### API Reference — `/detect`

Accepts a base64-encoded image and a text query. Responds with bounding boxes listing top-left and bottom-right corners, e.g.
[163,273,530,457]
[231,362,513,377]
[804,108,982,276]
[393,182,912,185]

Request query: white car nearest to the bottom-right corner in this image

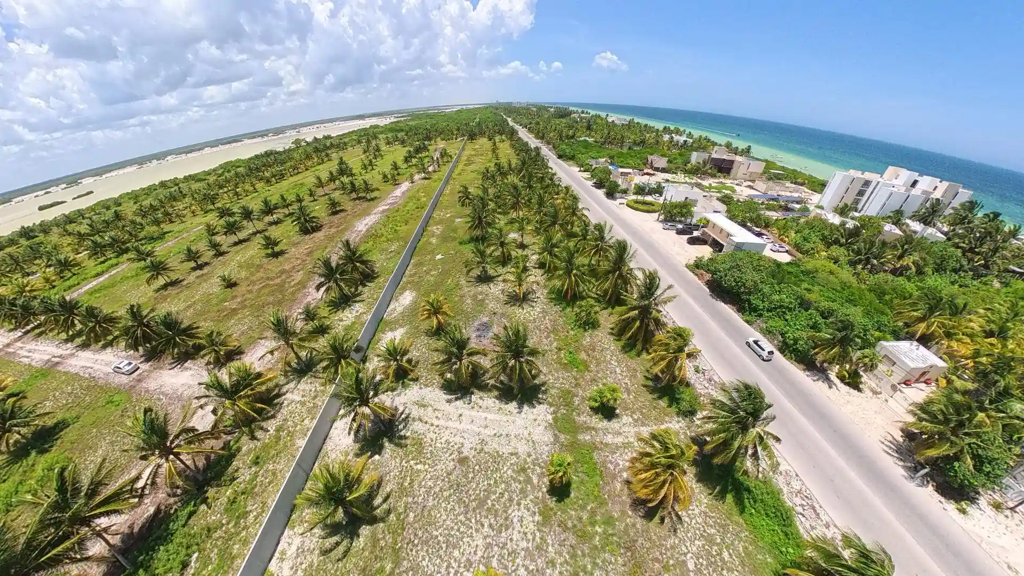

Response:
[748,337,779,362]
